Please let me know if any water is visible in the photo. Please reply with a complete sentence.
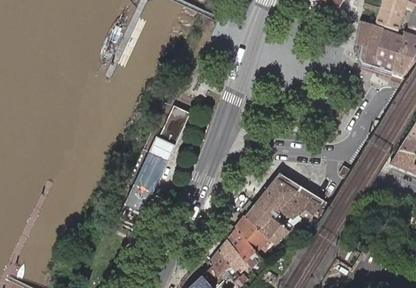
Yes, water can be seen from above here.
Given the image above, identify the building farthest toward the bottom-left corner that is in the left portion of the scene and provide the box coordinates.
[126,182,154,206]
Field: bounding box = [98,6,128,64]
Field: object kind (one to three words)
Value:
vessel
